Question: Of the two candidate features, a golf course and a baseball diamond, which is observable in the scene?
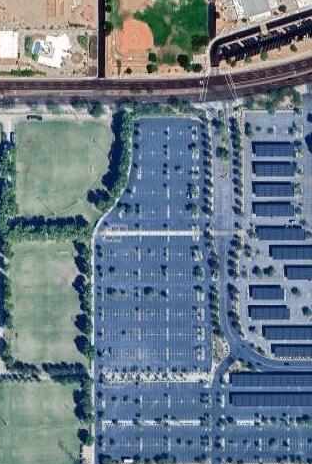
baseball diamond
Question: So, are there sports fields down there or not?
Yes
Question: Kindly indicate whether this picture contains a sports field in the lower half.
Yes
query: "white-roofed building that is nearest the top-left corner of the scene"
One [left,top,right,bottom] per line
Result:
[0,31,18,58]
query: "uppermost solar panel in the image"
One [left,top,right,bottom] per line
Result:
[254,143,294,156]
